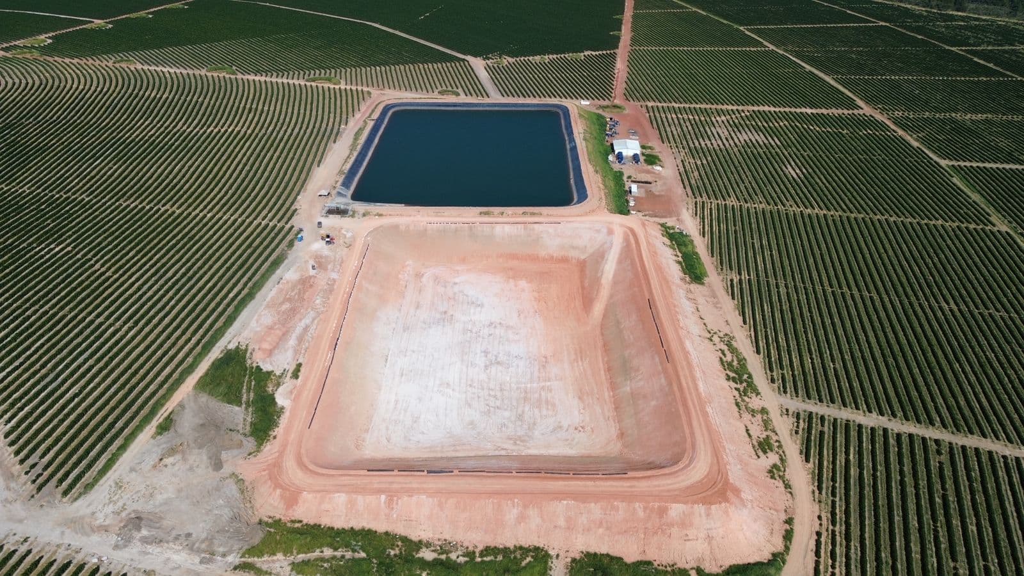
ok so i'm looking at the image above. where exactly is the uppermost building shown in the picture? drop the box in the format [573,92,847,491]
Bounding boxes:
[612,139,641,159]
